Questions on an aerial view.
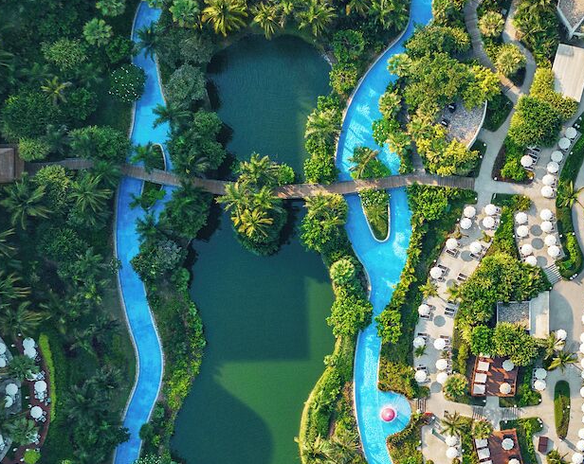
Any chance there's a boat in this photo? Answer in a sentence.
No, no boat can be seen from above.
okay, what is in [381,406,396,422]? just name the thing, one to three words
fountain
